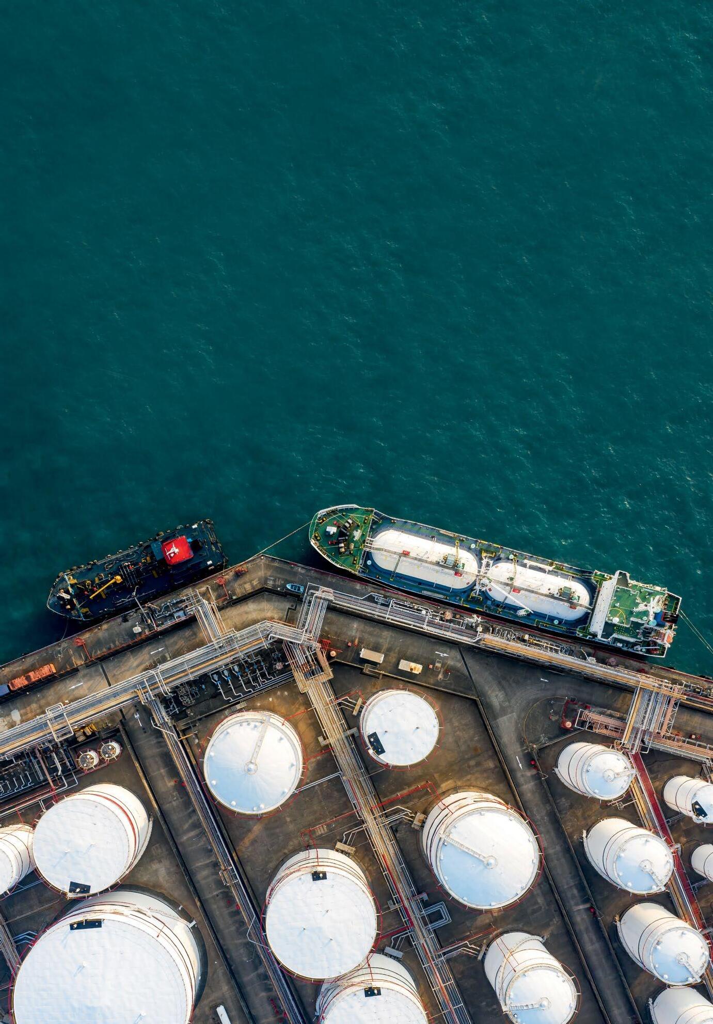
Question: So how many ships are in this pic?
two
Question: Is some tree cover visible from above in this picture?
No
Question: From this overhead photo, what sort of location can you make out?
industrial area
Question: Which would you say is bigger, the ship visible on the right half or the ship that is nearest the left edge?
the ship visible on the right half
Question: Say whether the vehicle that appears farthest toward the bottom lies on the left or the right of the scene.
left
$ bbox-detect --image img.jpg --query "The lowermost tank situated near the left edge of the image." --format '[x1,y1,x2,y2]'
[9,881,204,1024]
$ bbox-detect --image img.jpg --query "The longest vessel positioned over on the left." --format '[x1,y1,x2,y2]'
[47,516,231,620]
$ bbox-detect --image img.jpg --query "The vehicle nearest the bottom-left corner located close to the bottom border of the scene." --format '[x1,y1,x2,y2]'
[216,1000,236,1024]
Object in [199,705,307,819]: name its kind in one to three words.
storage tank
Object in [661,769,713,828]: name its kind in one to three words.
storage tank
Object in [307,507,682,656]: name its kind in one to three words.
ship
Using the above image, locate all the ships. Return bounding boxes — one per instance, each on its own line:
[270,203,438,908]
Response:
[47,516,231,620]
[307,507,682,656]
